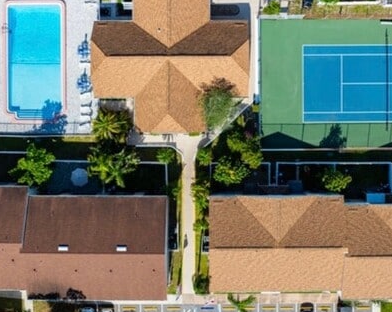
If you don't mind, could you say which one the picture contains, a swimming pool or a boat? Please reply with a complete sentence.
Of the two, only a swimming pool appears.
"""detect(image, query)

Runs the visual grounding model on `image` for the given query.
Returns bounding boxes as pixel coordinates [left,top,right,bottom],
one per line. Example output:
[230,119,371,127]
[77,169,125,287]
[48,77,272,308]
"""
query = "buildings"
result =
[208,189,351,292]
[18,193,171,301]
[91,0,249,131]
